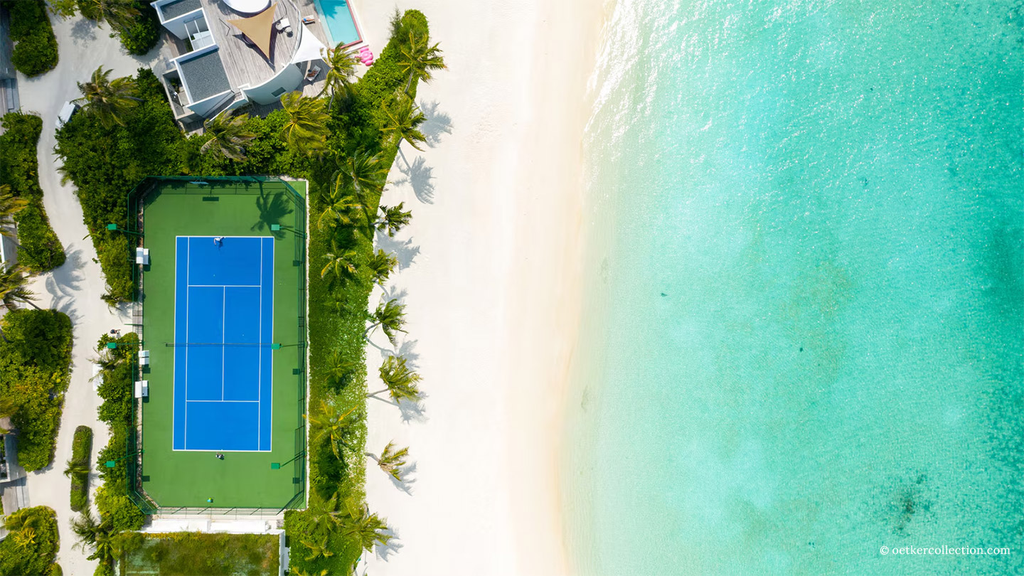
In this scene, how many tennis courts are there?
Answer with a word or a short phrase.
1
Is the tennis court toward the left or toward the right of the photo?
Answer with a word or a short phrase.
left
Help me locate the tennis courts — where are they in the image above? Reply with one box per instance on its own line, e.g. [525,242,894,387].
[143,181,306,507]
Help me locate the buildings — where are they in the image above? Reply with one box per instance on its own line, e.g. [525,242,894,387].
[148,0,310,127]
[118,514,291,576]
